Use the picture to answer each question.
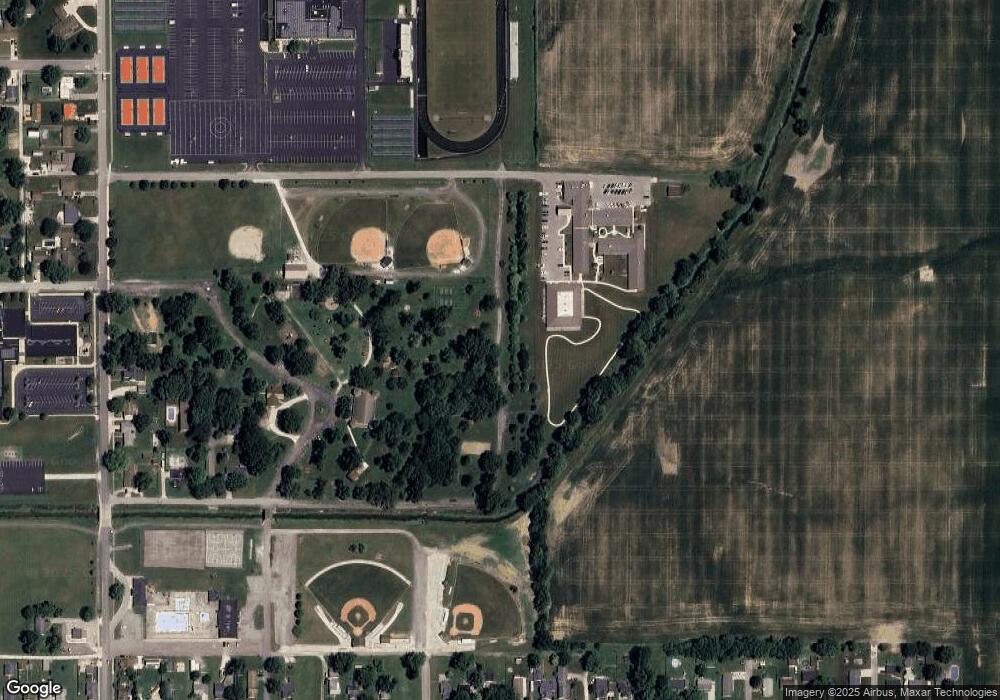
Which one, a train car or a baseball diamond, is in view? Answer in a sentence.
Looking from above, you can make out a baseball diamond.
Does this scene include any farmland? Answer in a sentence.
Yes, there's farmland in this view.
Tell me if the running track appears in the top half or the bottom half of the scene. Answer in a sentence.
The top half of the photo is where the running track is.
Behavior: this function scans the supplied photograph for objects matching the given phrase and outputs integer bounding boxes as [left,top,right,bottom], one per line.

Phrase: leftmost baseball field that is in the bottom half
[307,562,402,639]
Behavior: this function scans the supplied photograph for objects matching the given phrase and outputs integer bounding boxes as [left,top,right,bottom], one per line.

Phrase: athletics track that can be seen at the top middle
[415,0,509,158]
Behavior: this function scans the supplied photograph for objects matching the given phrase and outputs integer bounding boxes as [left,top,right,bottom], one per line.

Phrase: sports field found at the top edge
[428,0,496,140]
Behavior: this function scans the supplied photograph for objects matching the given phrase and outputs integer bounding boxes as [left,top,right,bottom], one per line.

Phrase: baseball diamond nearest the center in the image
[427,228,465,268]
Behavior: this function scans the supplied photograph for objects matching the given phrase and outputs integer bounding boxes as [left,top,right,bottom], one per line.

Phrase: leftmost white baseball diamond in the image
[229,226,266,264]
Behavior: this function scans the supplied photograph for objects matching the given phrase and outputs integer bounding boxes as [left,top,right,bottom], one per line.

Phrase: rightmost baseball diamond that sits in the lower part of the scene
[446,603,483,640]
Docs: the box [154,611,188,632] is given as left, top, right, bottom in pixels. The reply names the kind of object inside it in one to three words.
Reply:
swimming pool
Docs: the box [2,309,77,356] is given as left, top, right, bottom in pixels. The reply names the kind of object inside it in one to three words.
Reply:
building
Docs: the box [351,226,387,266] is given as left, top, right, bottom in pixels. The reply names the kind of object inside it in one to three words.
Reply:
baseball field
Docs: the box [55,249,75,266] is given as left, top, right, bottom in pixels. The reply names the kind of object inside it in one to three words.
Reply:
house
